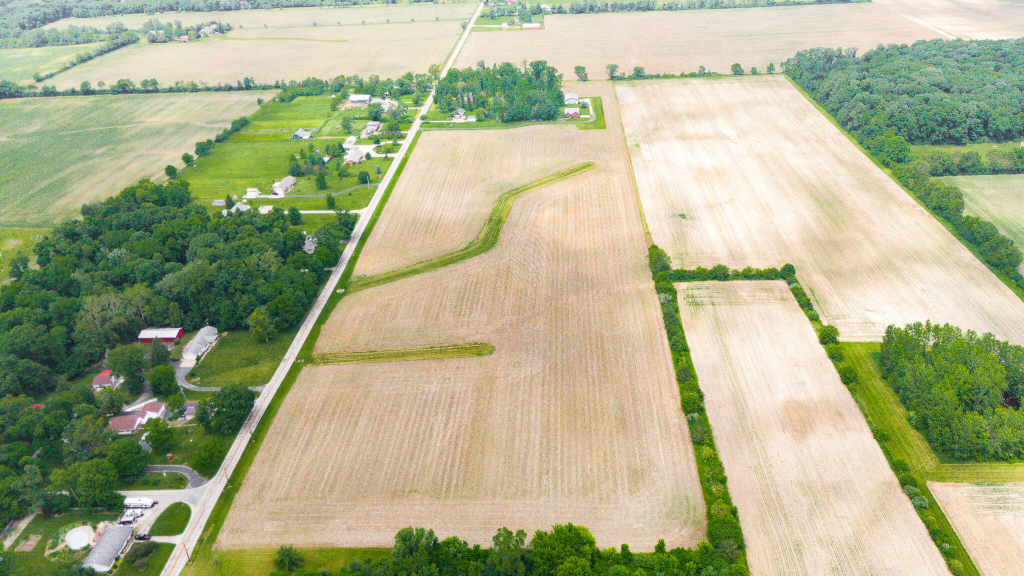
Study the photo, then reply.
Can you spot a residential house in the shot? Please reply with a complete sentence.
Yes, there is a residential house in the image.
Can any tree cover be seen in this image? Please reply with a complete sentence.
Yes, there's tree cover in this view.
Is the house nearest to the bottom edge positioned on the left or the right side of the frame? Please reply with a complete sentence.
The house nearest to the bottom edge appears in the left half of the scene.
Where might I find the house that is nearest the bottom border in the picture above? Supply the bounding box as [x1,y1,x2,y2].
[80,524,134,572]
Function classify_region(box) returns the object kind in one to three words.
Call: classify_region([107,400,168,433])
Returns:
house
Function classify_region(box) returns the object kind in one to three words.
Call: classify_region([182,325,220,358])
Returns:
house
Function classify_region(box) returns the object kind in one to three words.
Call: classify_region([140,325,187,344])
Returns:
barn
